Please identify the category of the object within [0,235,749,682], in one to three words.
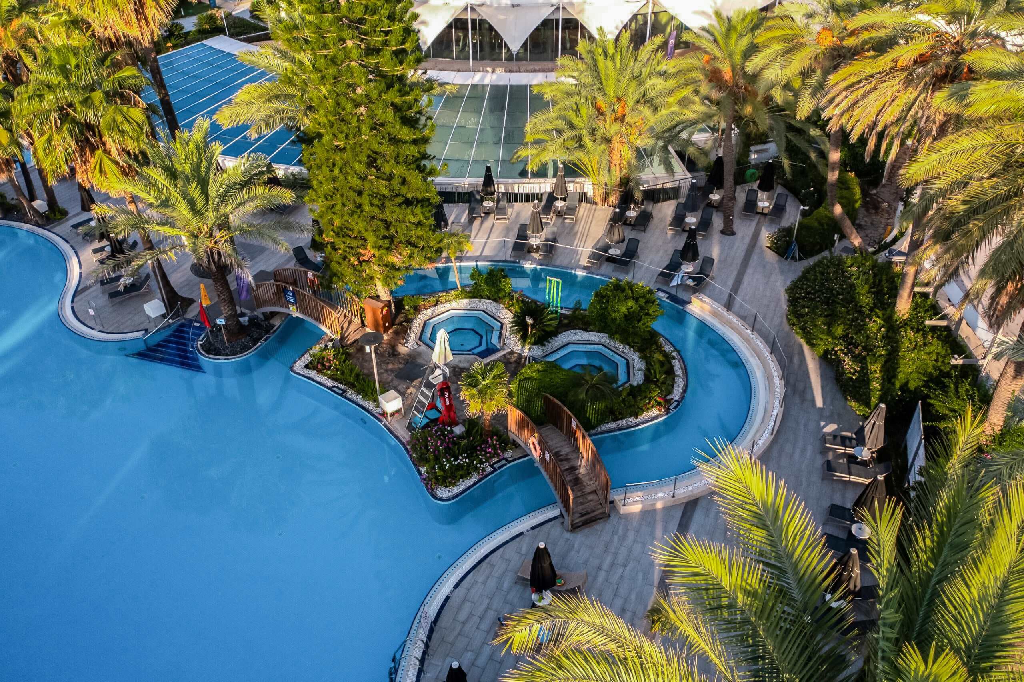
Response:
swimming pool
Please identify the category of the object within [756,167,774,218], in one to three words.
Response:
umbrella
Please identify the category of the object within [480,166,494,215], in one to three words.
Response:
umbrella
